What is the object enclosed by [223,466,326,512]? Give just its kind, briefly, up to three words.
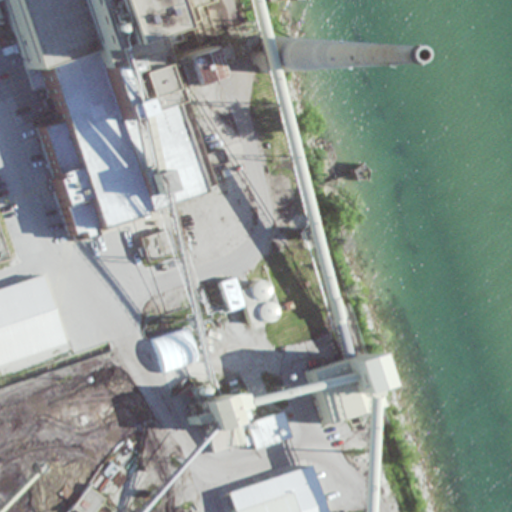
building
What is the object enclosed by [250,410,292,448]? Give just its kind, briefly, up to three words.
building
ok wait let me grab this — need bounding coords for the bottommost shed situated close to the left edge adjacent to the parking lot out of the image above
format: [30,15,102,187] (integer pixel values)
[0,276,70,364]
